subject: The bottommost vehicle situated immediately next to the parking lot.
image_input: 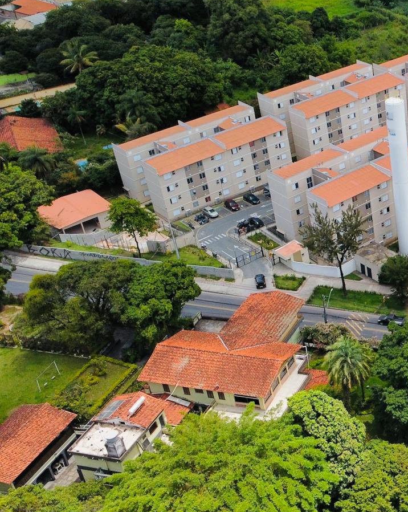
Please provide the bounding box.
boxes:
[254,274,267,289]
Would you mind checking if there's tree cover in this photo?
Yes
